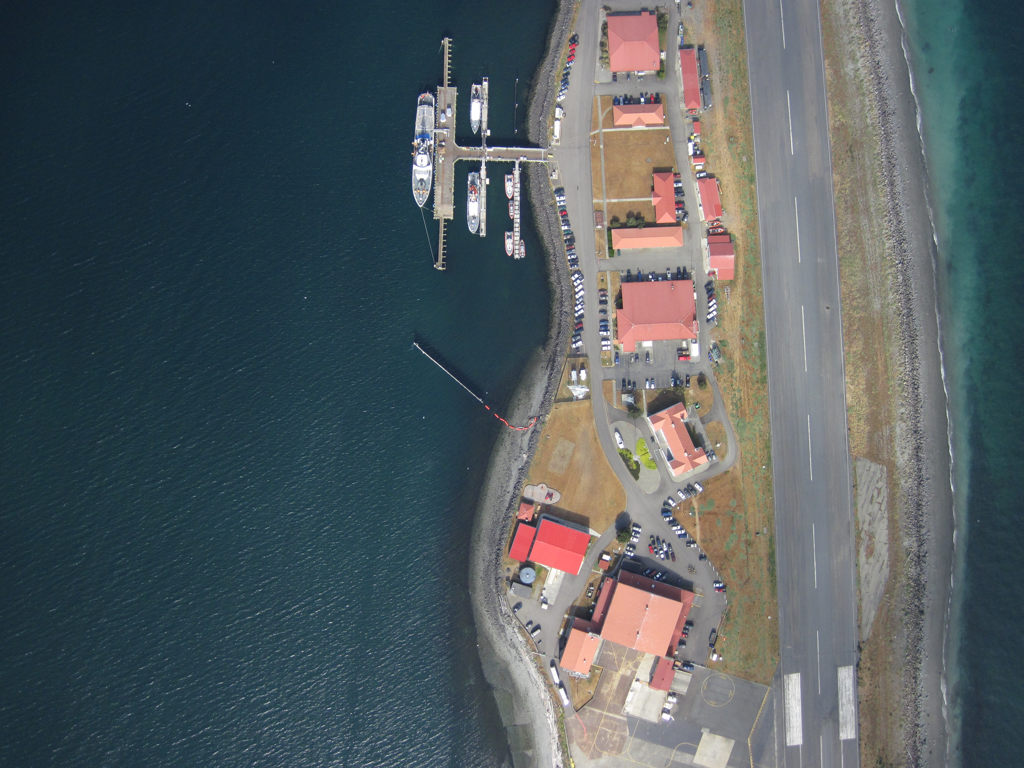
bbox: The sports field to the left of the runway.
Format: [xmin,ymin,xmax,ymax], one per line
[527,400,626,532]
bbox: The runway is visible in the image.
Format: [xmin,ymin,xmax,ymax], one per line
[742,0,861,768]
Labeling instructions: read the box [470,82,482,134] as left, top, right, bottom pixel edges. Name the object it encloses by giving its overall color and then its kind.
white vessel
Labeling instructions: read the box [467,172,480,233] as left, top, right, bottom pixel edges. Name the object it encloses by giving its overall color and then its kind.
white vessel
